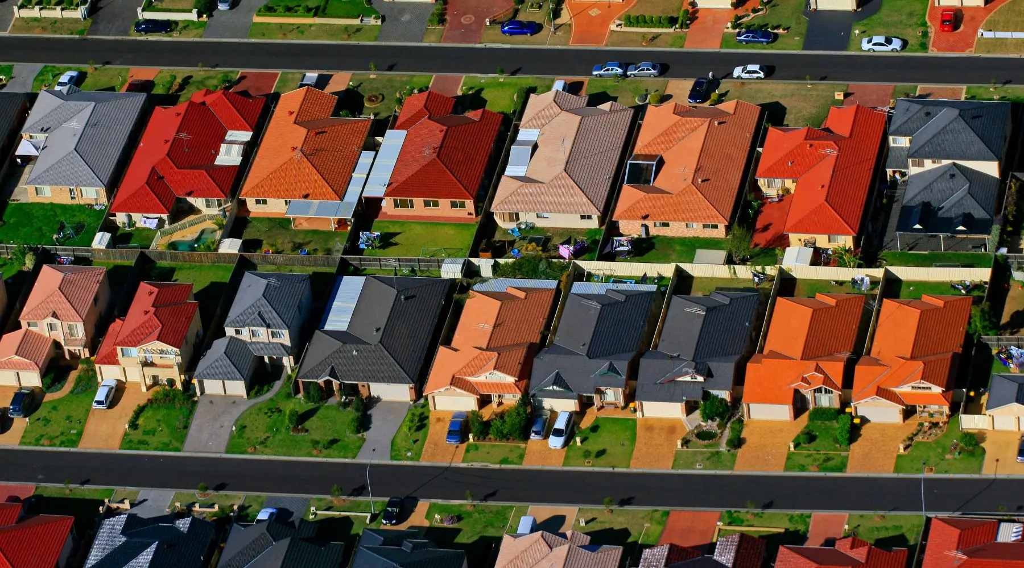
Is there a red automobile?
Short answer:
Yes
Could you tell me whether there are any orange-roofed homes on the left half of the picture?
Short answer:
Yes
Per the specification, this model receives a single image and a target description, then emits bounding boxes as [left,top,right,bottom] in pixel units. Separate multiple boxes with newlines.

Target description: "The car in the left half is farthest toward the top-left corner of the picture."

[49,67,83,90]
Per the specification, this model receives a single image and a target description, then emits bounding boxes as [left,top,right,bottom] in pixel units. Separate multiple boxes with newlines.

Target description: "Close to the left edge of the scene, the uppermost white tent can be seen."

[16,140,45,169]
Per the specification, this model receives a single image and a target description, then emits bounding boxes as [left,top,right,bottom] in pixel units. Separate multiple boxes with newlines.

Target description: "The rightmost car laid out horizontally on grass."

[860,34,903,52]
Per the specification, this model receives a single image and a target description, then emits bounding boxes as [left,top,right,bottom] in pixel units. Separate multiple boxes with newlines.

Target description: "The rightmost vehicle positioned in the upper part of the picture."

[938,9,957,30]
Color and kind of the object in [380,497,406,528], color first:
black car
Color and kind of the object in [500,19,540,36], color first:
blue car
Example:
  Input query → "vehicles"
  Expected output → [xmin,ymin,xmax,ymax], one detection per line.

[548,75,569,93]
[938,9,957,30]
[819,531,838,546]
[380,497,406,528]
[734,28,775,45]
[92,380,118,408]
[9,389,34,416]
[624,62,661,78]
[512,516,536,533]
[1016,433,1024,461]
[732,63,767,80]
[297,66,319,88]
[446,416,468,443]
[528,414,550,439]
[250,504,280,523]
[500,19,540,36]
[688,76,710,101]
[133,16,173,33]
[590,61,627,78]
[49,67,83,90]
[860,34,903,52]
[549,412,574,445]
